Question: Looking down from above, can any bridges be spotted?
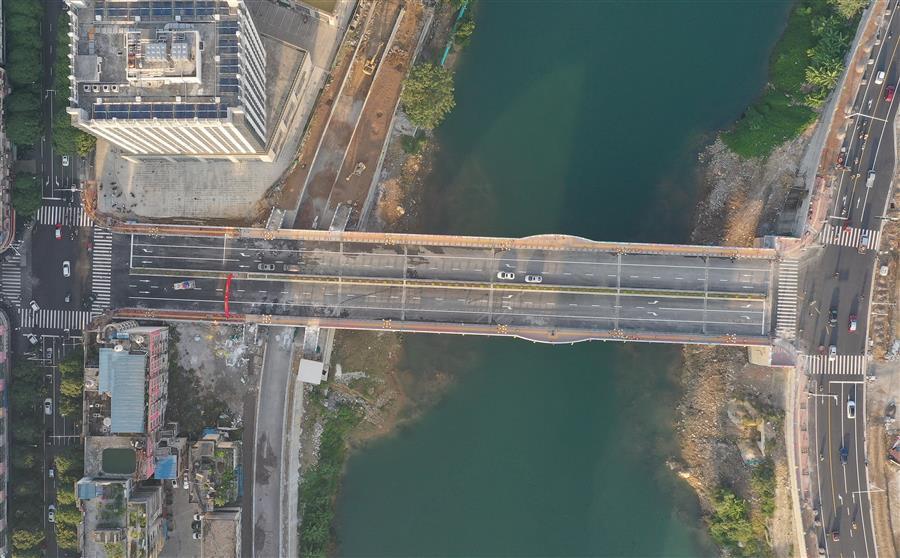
Yes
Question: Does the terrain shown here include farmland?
No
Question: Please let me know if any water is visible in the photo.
Yes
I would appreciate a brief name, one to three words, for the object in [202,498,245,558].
house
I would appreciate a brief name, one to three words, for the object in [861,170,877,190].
vehicle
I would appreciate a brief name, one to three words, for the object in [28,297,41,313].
vehicle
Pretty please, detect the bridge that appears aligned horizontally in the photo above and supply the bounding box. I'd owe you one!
[107,221,779,347]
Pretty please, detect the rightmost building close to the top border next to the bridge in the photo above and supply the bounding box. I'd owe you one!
[71,0,308,168]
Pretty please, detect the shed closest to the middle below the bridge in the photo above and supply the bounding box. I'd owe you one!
[298,359,329,384]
